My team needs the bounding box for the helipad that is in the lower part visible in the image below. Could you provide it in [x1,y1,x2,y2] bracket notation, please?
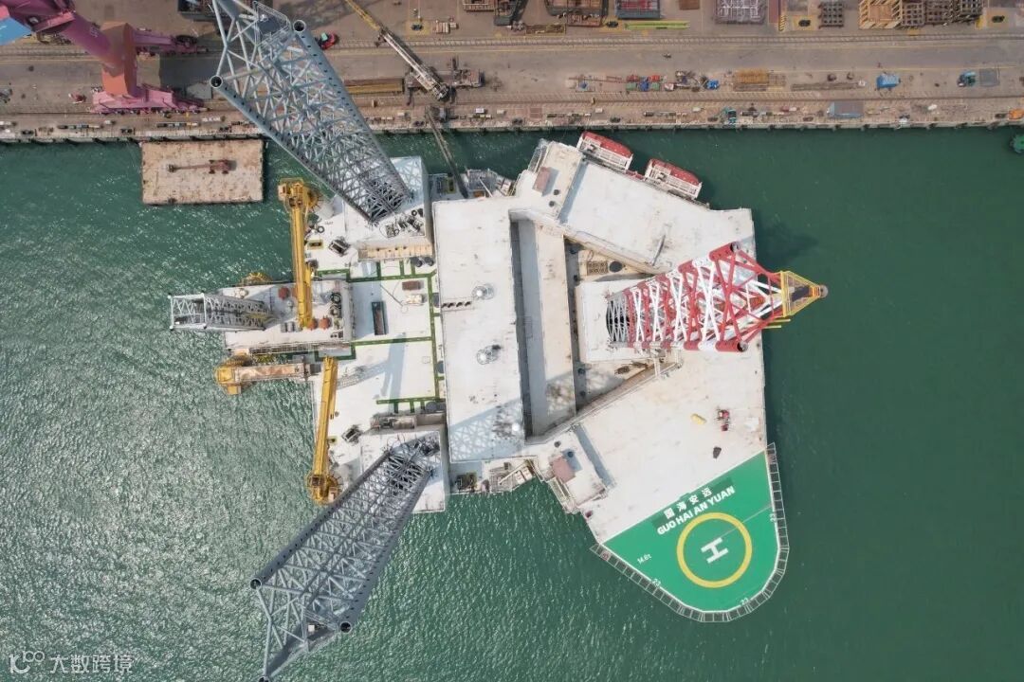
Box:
[591,444,790,623]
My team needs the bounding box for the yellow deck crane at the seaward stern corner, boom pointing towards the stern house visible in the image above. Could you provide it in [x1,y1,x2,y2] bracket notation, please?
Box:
[309,355,360,512]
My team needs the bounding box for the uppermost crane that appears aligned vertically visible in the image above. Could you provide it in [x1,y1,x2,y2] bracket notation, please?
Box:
[276,173,339,333]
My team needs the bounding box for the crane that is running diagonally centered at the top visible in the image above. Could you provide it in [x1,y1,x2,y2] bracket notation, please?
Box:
[342,0,490,107]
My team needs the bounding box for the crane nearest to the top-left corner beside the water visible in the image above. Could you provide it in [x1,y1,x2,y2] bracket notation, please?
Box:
[0,0,207,114]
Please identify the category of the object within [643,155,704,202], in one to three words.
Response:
boat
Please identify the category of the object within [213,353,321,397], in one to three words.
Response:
crane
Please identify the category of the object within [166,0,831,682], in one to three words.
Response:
ship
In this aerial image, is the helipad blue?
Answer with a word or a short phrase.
No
